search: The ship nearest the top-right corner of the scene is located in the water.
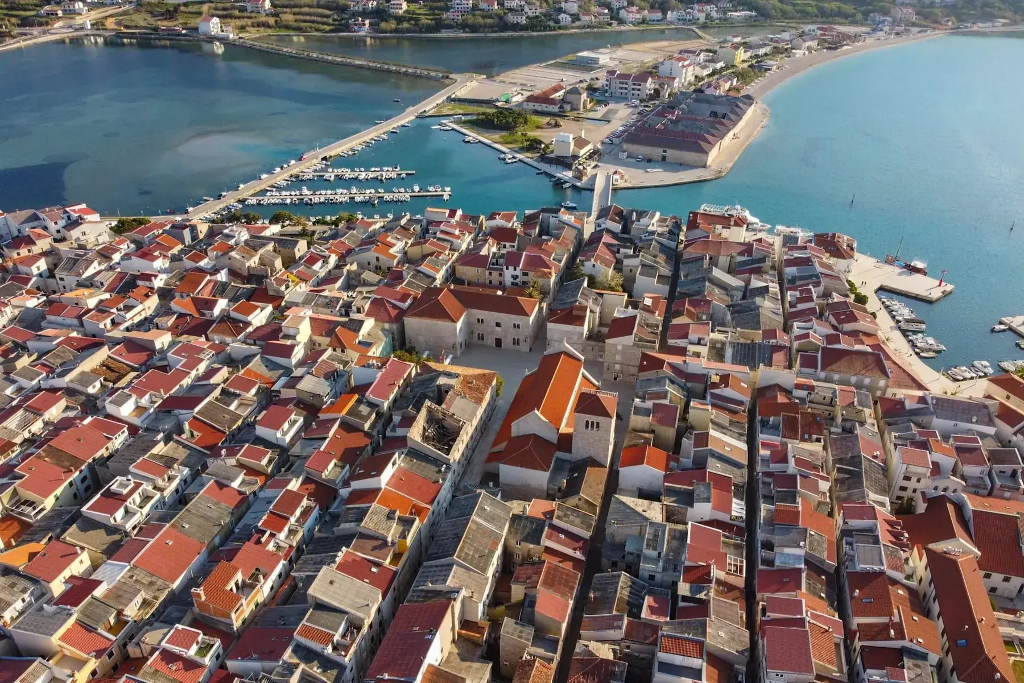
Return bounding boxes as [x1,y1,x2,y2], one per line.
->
[884,236,930,273]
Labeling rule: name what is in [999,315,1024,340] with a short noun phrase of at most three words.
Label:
pier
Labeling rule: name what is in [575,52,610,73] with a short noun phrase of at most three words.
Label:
house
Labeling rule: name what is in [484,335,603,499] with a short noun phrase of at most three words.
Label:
building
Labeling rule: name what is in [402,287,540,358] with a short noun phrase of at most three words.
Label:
building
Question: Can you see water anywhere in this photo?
Yes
